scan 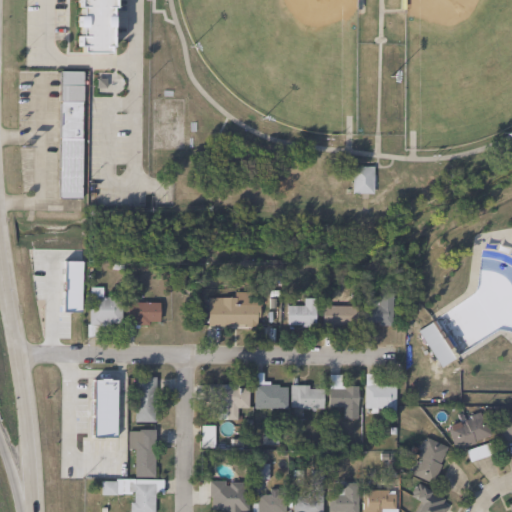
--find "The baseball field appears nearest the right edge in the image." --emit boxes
[406,0,512,149]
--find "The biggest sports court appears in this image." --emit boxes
[152,96,186,154]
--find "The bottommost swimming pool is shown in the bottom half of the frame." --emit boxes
[216,464,235,480]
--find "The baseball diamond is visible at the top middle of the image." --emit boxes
[180,0,359,134]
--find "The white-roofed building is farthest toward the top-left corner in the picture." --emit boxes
[76,0,121,54]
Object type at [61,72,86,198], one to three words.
building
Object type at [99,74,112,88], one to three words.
gazebo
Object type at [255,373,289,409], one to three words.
house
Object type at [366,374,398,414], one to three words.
house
